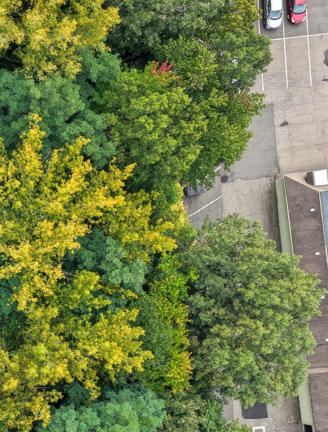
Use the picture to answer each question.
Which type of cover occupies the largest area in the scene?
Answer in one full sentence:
The scene is dominated by trees.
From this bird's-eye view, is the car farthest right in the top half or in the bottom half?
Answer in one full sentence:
The car farthest right is in the top half of the image.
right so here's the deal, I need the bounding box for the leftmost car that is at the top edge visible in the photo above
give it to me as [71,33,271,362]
[263,0,287,28]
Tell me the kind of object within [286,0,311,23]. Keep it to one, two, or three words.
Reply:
car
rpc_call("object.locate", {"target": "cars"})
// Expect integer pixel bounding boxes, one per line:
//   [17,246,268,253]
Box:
[263,0,287,28]
[286,0,311,23]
